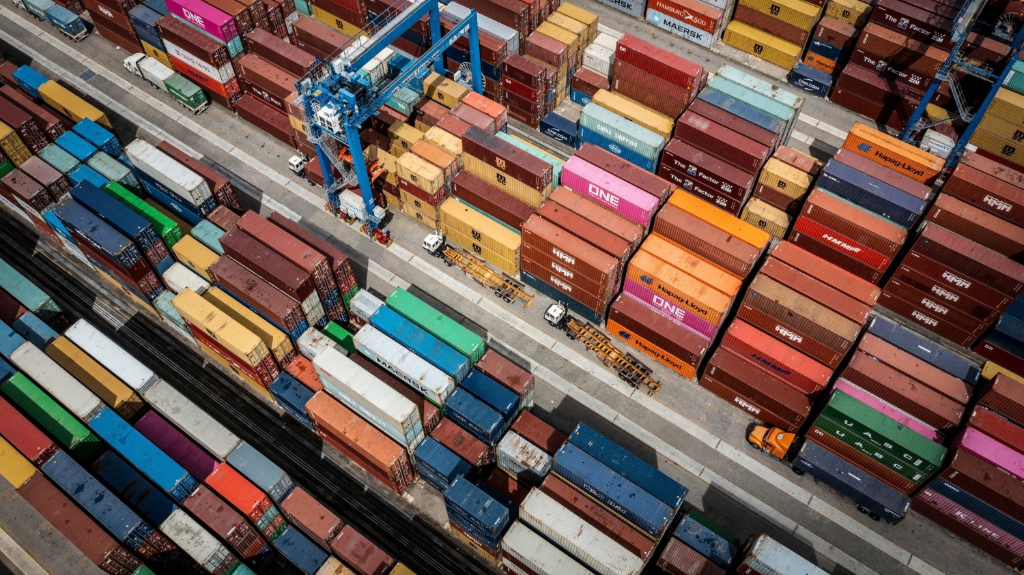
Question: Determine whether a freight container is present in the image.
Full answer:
Yes, this view includes a freight container.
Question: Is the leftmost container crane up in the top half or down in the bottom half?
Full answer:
It is in the top half that the leftmost container crane appears.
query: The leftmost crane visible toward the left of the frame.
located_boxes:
[285,0,490,247]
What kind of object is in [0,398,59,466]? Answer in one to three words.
shipping container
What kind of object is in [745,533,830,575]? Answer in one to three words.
shipping container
